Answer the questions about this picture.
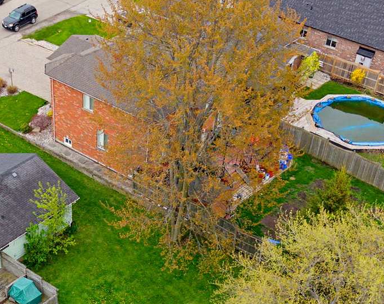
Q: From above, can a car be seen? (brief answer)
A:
Yes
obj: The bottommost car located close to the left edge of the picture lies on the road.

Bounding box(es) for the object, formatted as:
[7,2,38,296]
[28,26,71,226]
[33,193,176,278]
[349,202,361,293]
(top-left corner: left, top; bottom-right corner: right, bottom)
[5,5,45,33]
